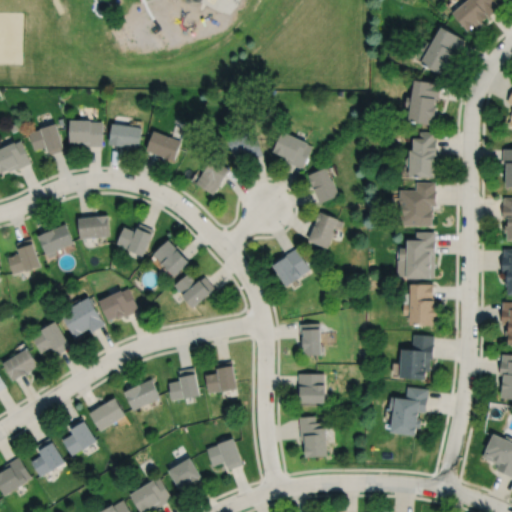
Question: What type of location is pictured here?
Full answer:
It's a residential area.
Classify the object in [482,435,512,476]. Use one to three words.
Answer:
house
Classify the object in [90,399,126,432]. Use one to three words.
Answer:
house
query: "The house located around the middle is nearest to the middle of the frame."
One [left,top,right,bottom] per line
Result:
[272,250,311,286]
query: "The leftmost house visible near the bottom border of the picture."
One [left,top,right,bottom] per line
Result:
[0,458,32,496]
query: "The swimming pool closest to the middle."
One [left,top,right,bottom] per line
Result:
[142,271,157,289]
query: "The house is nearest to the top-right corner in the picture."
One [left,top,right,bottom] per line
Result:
[452,0,500,31]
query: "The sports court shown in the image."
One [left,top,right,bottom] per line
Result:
[0,12,24,66]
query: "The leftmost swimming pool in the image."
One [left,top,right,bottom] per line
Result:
[58,254,76,272]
